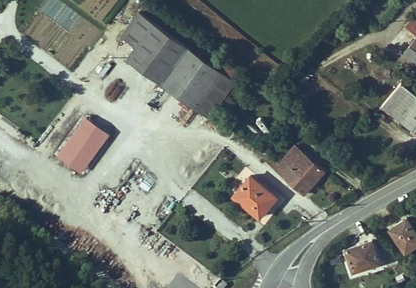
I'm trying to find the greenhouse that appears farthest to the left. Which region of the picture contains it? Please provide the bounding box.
[40,0,81,33]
